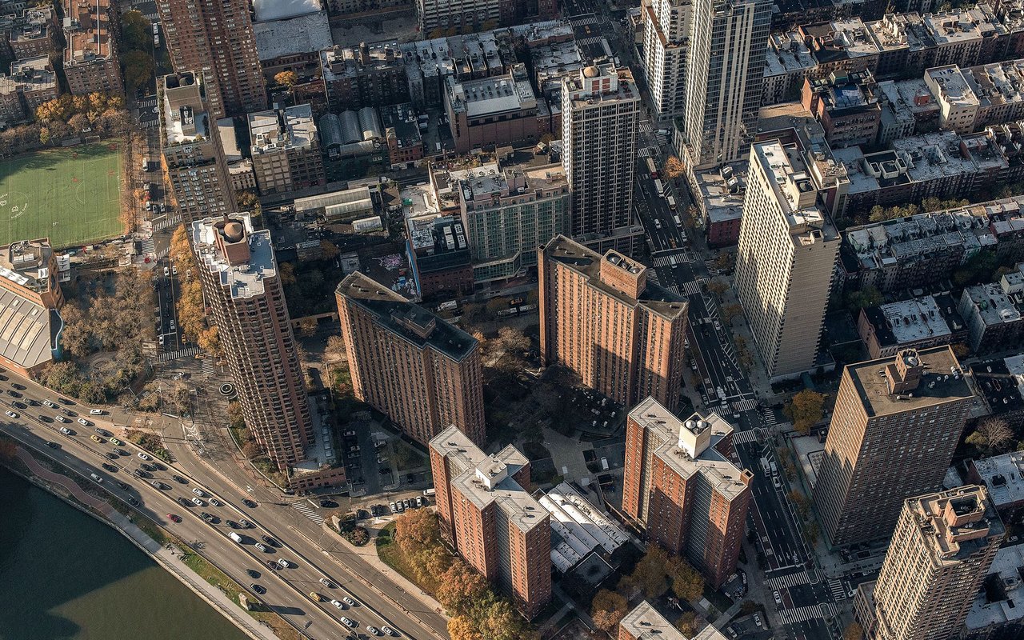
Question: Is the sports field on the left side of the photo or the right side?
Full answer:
The sports field appears in the left half of the scene.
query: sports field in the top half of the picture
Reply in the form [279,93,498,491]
[0,142,123,246]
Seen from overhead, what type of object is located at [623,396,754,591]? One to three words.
building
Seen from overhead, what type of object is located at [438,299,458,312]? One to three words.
vehicle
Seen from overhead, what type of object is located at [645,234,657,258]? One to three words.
vehicle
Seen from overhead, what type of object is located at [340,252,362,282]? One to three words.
shed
